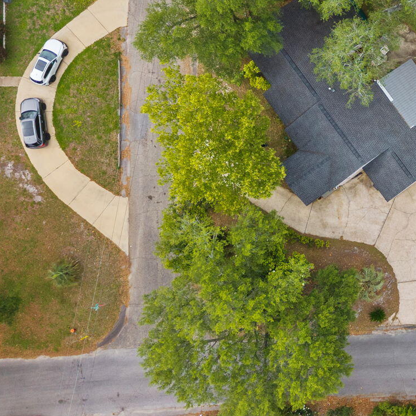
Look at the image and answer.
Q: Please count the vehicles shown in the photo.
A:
2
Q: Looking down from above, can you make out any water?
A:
No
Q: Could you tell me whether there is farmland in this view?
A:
No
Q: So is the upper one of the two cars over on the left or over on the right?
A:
left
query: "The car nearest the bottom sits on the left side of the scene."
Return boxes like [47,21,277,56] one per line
[22,99,52,148]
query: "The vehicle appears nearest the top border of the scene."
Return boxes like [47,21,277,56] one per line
[30,40,71,84]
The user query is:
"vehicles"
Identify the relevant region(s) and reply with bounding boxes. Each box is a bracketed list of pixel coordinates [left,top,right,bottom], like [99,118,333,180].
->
[30,40,71,84]
[22,99,52,148]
